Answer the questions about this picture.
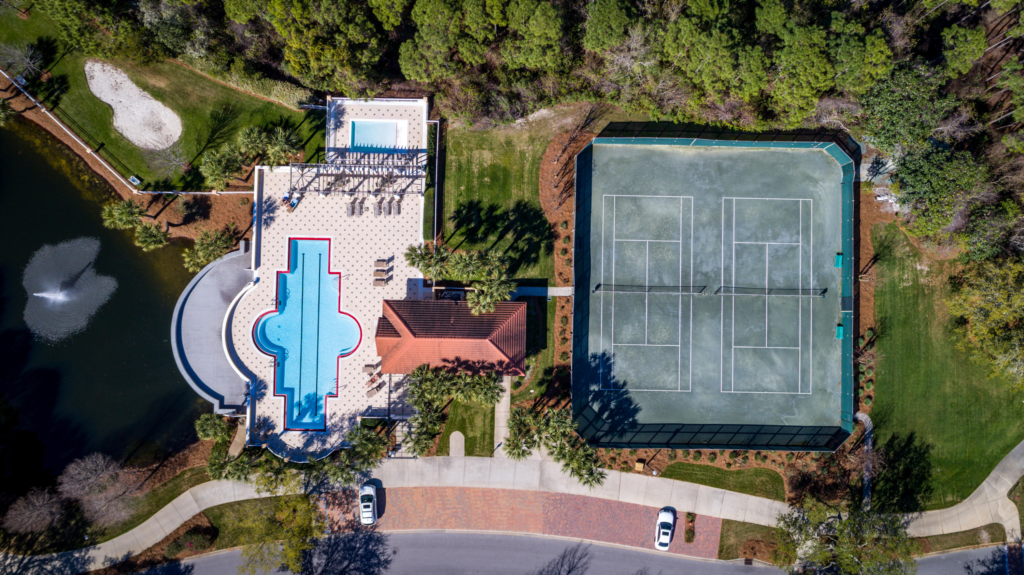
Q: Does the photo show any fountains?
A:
Yes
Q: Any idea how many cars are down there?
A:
2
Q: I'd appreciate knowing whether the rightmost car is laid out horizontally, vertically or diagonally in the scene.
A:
vertically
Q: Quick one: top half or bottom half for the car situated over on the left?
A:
bottom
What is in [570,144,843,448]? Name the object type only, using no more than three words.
tennis court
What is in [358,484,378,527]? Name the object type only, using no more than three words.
car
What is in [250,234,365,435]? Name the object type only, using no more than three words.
swimming pool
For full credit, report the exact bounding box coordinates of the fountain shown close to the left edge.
[20,235,126,351]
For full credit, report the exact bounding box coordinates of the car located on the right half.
[654,508,675,552]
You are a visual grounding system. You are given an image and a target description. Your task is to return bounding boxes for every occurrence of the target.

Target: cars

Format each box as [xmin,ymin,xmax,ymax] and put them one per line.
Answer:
[654,508,675,552]
[358,484,378,527]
